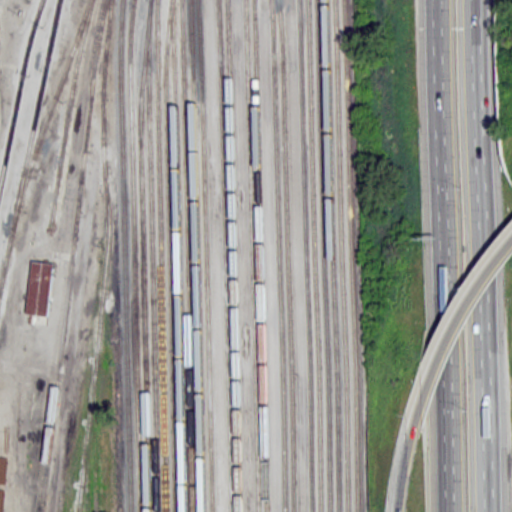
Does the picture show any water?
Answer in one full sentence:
No, there is no water in the image.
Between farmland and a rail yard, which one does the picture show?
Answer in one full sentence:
This image shows a rail yard.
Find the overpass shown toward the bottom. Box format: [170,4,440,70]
[381,226,512,512]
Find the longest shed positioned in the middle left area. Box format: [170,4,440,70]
[25,262,54,315]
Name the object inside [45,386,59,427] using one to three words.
rail car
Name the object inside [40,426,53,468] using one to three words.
rail car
